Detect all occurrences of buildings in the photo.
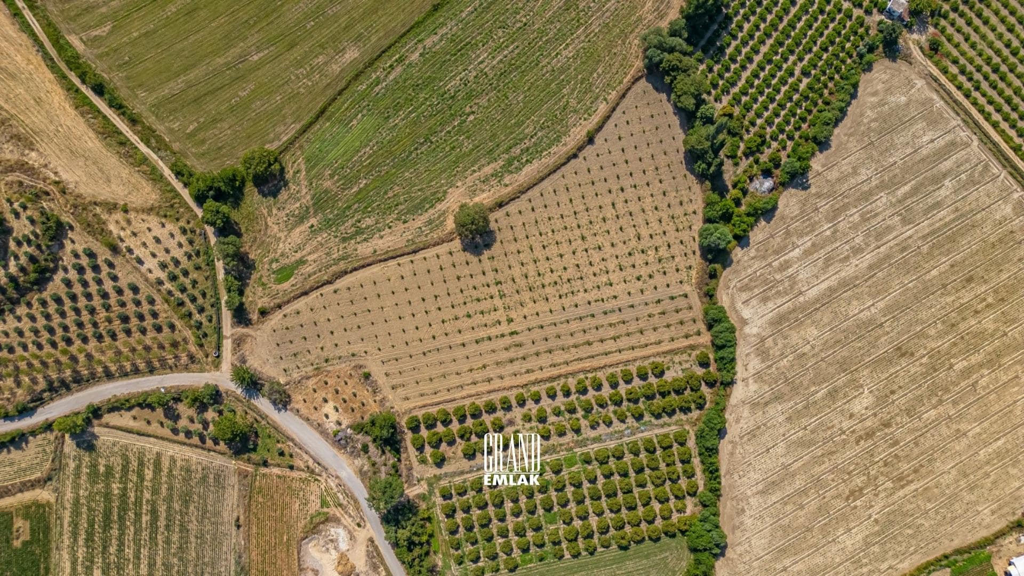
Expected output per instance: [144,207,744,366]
[1003,549,1024,576]
[879,0,907,20]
